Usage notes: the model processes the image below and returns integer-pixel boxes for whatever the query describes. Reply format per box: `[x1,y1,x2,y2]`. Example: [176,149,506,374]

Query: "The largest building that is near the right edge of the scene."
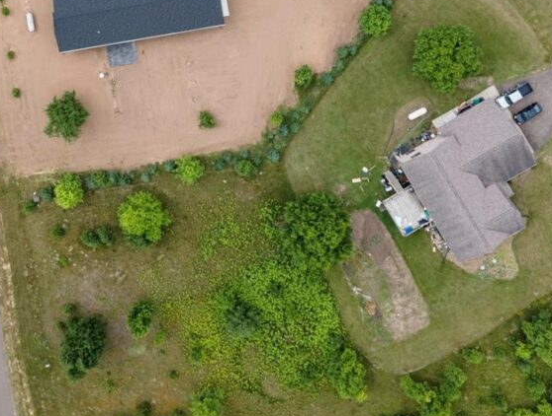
[401,97,535,258]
